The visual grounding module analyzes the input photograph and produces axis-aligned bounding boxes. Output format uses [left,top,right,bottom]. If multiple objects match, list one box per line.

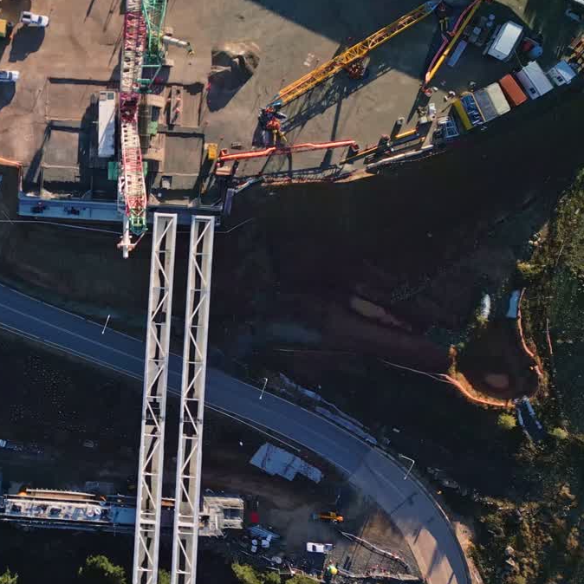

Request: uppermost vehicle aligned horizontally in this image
[21,10,49,25]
